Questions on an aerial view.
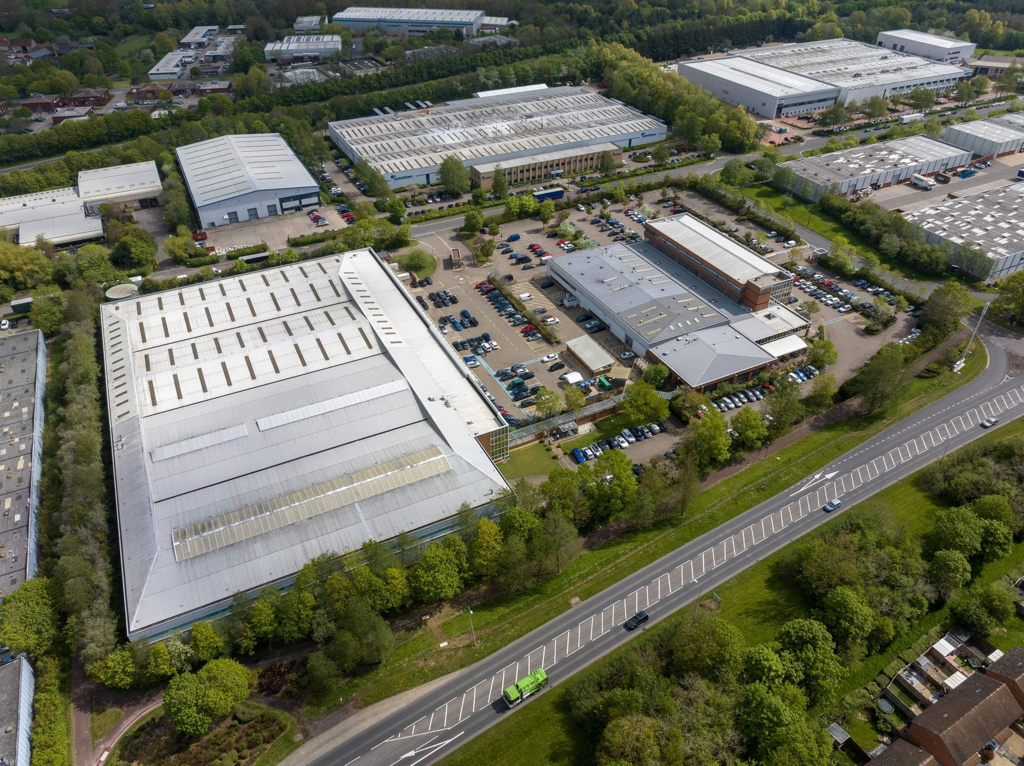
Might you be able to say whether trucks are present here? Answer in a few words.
Yes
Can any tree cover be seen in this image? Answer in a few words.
Yes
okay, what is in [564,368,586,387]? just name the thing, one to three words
gazebo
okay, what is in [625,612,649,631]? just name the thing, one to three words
car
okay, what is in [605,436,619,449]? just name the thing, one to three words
vehicle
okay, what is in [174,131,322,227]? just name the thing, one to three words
shed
